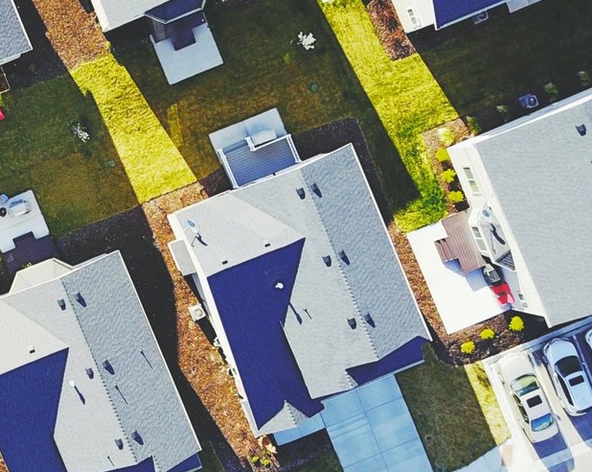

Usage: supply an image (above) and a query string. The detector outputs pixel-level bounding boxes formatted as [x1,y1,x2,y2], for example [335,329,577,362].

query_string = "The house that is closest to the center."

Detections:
[164,140,433,432]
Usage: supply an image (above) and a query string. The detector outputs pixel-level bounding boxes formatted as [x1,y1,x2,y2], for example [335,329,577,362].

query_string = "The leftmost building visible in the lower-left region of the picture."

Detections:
[0,248,203,472]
